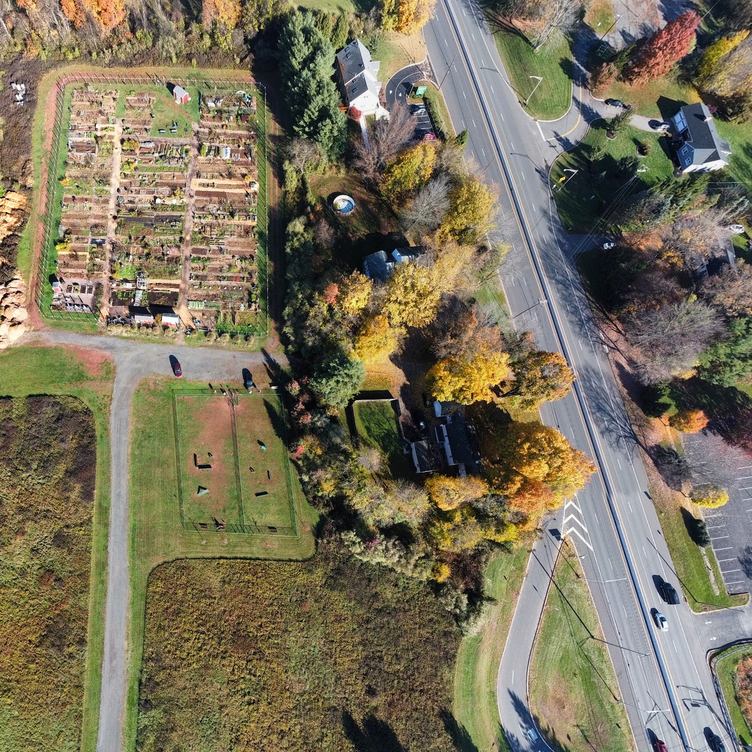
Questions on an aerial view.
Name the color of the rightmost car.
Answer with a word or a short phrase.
black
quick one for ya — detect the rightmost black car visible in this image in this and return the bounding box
[708,730,729,752]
